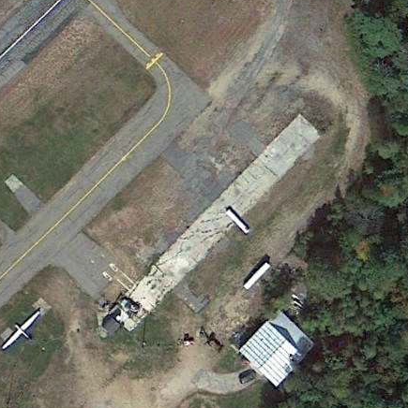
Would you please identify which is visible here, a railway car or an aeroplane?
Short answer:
aeroplane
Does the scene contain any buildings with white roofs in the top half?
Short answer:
No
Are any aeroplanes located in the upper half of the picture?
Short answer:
No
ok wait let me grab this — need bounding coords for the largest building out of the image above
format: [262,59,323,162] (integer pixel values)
[241,313,313,385]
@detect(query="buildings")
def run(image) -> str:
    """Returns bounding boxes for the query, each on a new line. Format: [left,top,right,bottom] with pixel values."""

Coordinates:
[241,313,313,385]
[102,312,124,332]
